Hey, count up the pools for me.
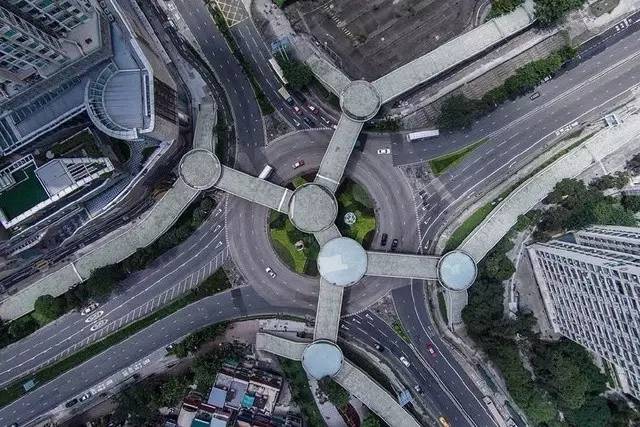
none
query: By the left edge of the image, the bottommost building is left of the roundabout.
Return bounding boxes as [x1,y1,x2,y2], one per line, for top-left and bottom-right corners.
[0,156,119,229]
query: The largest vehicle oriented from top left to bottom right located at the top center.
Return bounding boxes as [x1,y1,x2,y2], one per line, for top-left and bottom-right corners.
[266,57,289,86]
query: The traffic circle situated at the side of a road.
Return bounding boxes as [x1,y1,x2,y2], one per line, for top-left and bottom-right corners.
[226,128,426,320]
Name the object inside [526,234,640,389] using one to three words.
building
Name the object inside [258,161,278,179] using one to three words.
vehicle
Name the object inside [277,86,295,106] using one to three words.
vehicle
